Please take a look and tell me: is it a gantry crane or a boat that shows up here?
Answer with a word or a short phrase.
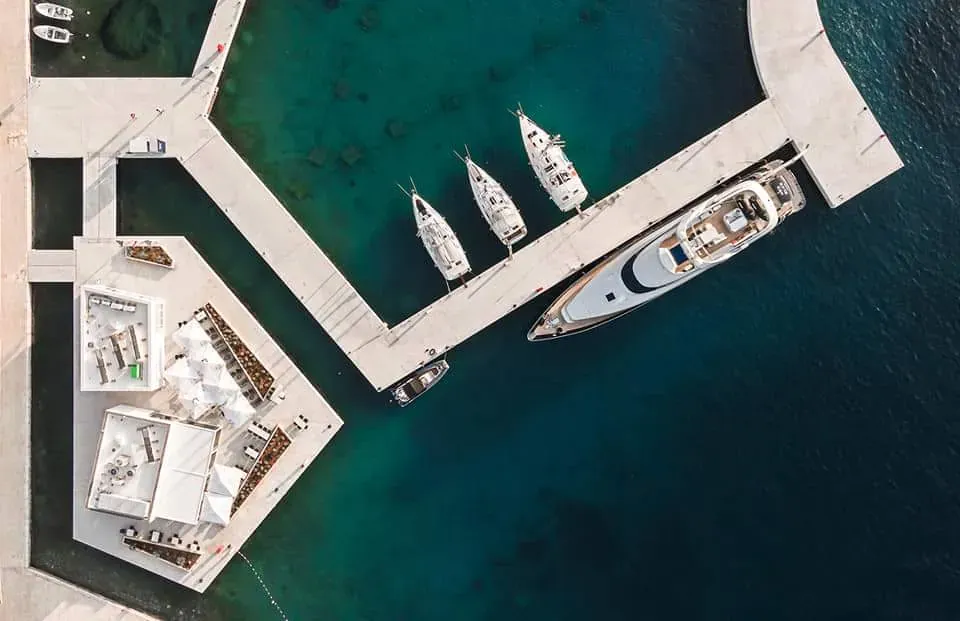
boat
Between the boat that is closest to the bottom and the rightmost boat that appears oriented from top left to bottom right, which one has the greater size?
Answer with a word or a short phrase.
the rightmost boat that appears oriented from top left to bottom right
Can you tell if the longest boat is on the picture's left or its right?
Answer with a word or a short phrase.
right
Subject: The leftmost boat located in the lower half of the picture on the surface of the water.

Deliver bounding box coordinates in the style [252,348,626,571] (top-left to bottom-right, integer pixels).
[392,355,449,406]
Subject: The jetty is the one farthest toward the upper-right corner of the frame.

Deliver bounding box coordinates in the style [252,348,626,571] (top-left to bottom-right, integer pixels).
[744,0,903,209]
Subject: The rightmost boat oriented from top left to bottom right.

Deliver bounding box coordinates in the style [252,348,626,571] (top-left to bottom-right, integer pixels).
[509,100,591,215]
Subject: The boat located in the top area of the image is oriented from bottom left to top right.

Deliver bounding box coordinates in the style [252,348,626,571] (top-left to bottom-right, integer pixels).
[527,140,807,339]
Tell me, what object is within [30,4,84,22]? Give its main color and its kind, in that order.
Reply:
white boat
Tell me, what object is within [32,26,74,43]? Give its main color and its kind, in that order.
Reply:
white boat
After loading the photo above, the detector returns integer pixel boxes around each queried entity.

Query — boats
[32,26,74,43]
[392,355,449,406]
[456,145,532,249]
[404,180,477,293]
[509,100,591,215]
[30,4,84,22]
[527,140,807,339]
